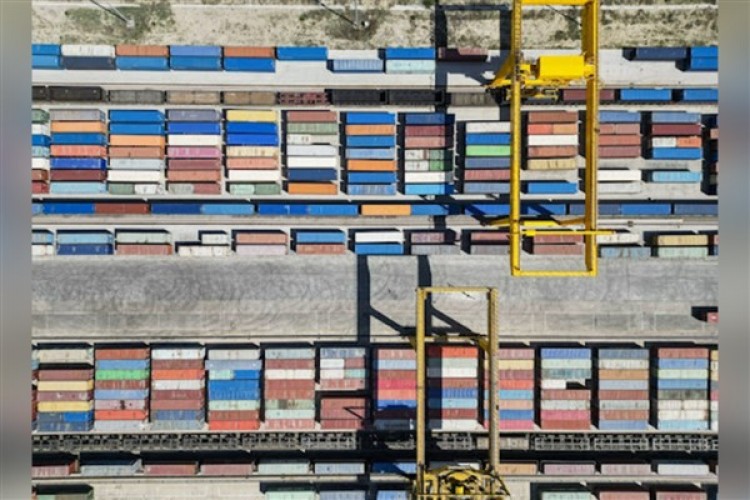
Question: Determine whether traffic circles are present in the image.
No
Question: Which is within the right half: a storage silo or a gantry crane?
gantry crane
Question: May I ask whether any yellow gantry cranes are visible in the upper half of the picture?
Yes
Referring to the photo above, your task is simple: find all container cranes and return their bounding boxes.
[401,286,509,500]
[484,0,612,275]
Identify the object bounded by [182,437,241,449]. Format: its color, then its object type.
gray rail car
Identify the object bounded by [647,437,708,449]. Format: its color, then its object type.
gray rail car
